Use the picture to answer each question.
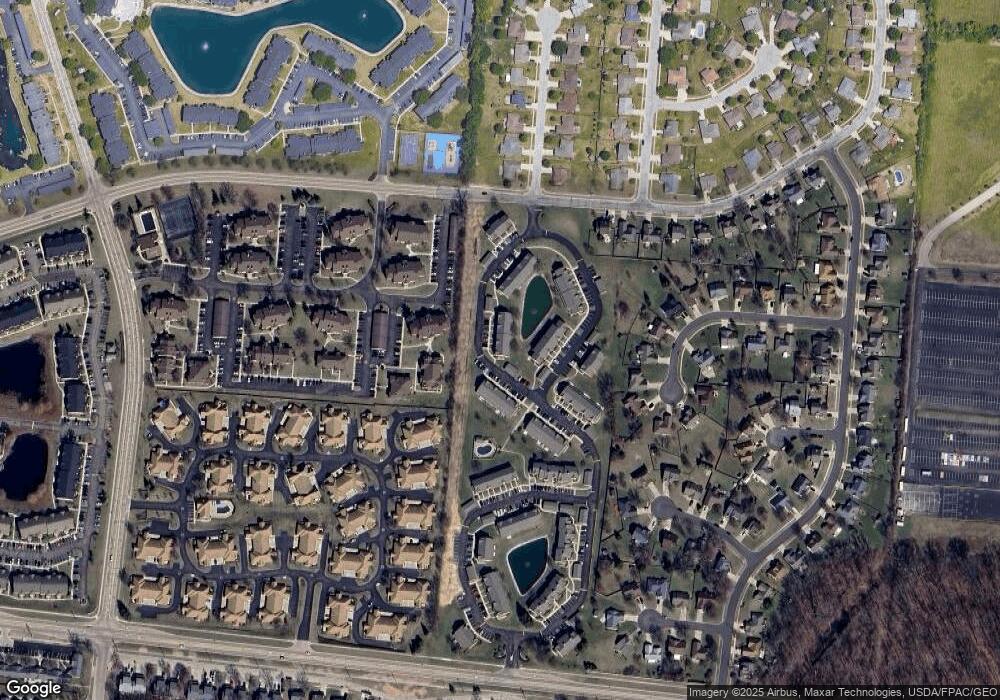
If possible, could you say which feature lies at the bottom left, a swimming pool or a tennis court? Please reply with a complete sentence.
Visible at the bottom left is a swimming pool.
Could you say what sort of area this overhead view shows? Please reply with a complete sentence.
What you see here is a residential area.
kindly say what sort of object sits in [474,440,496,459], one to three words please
swimming pool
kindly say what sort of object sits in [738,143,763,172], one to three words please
house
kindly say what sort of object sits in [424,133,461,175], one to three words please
sports court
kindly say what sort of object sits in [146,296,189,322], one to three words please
building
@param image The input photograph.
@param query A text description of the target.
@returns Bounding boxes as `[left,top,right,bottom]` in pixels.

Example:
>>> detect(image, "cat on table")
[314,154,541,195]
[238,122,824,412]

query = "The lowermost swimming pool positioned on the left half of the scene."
[210,499,234,519]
